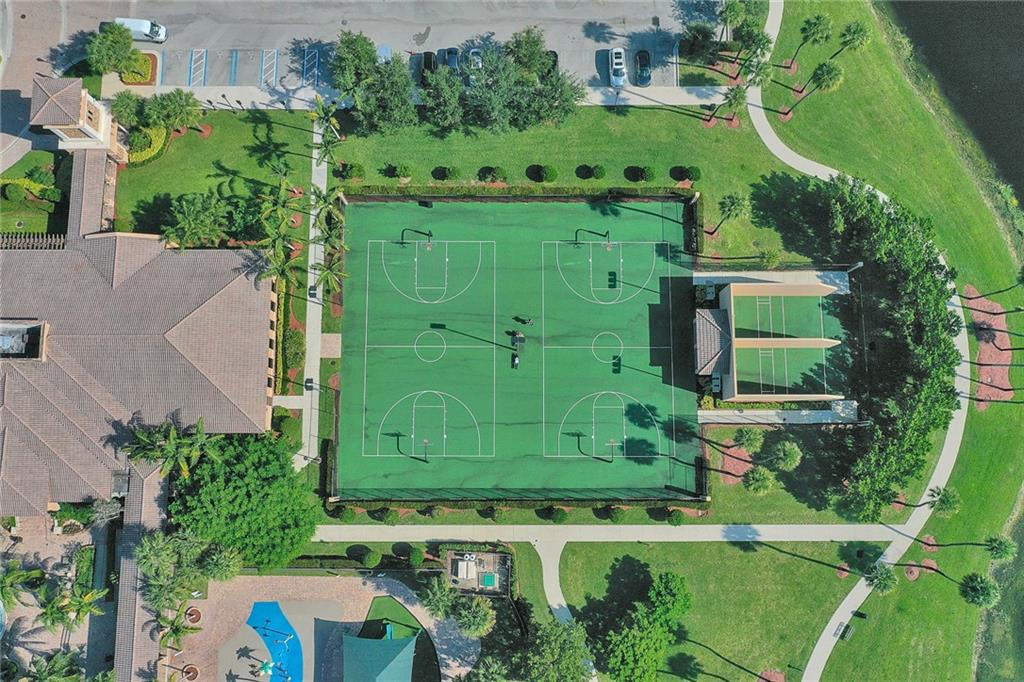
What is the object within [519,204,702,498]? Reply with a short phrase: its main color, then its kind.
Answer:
green basketball court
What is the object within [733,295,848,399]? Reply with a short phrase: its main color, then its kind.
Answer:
green sports court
